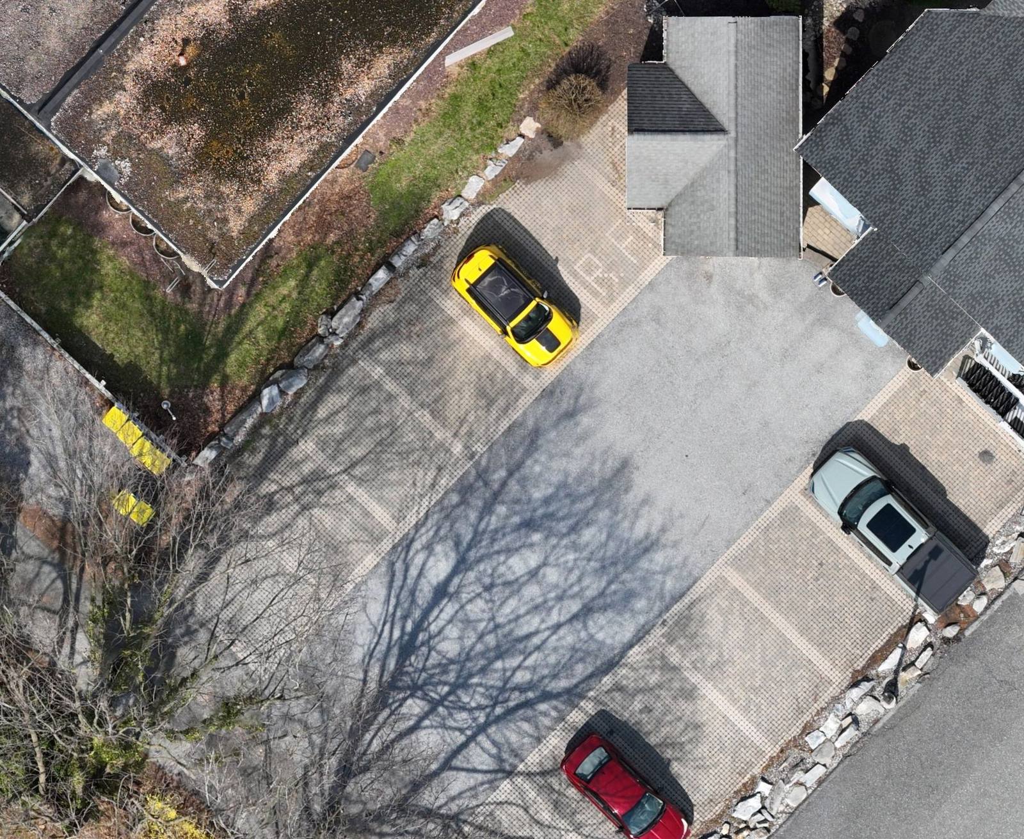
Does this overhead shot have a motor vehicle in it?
Yes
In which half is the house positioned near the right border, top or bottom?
top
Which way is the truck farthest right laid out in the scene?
at an angle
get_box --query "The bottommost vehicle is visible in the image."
[561,734,698,839]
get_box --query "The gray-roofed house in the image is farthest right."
[794,0,1024,379]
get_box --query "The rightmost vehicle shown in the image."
[808,441,984,617]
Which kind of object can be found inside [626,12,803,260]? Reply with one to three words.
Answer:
building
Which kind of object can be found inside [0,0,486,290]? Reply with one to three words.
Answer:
building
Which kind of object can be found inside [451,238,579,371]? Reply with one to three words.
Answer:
car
